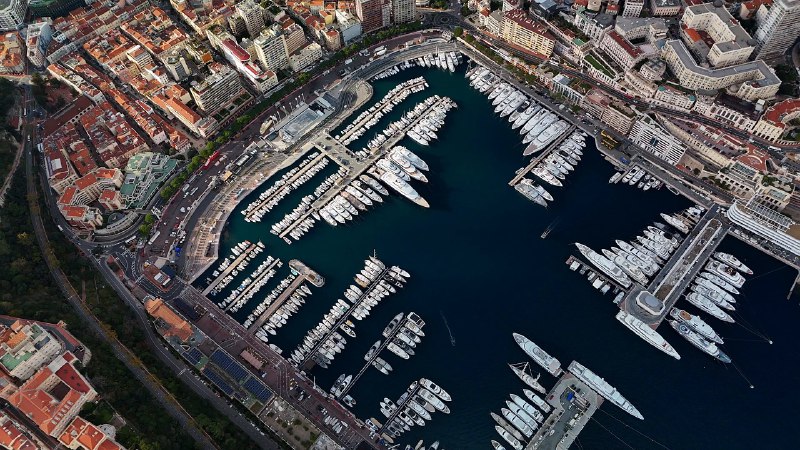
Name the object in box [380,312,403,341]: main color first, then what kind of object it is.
gray boat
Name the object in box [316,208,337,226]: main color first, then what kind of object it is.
white boat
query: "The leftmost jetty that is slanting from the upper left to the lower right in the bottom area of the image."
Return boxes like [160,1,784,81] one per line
[287,259,327,291]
